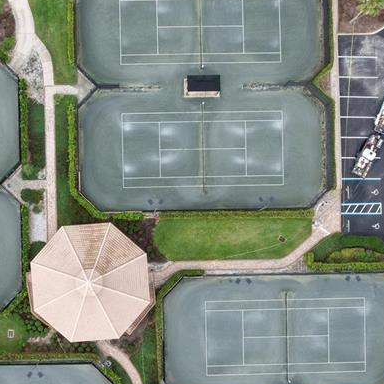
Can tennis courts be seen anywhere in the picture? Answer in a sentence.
Yes, there's a tennis court down there.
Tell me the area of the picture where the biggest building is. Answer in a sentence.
The biggest building sits in the bottom left section of the image.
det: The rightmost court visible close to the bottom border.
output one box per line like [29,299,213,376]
[163,273,384,384]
